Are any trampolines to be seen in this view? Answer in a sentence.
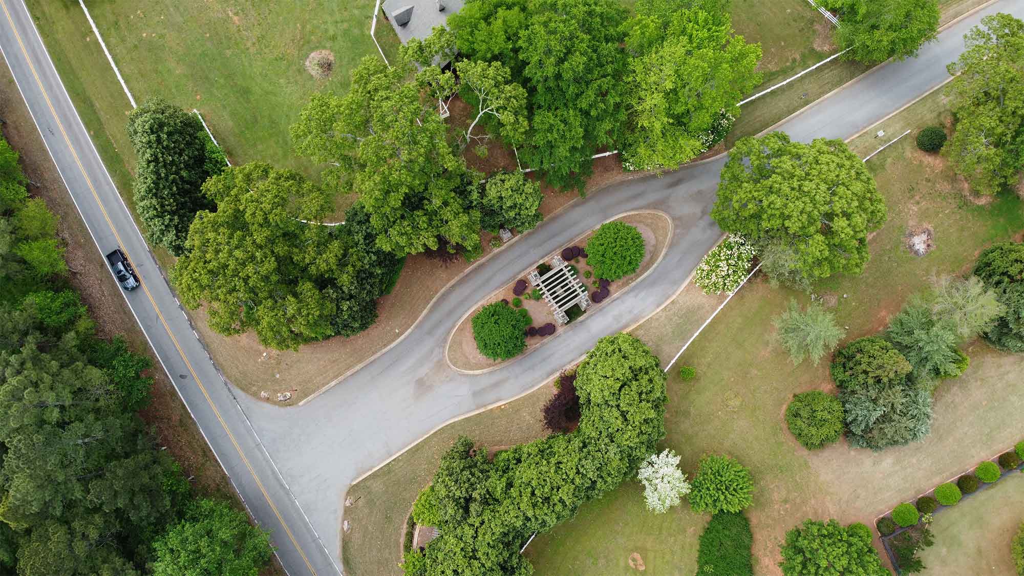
No, I can't see a single trampoline in this photo.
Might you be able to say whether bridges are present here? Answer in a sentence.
No, there's no bridge here.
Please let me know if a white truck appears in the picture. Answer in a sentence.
No, there appears to be no white truck in this shot.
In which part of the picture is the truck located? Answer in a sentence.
The truck is in the left part of the image.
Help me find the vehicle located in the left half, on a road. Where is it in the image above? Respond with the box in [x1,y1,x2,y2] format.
[108,249,140,289]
